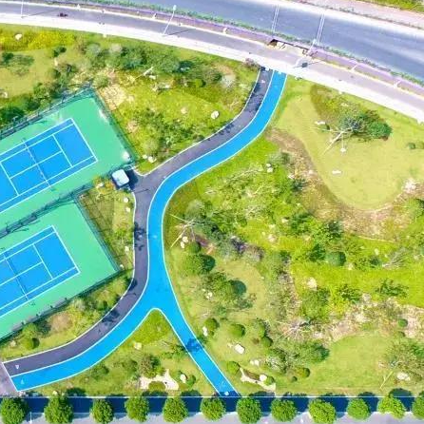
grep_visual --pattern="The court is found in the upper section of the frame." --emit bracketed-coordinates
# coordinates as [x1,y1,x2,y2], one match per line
[0,85,135,231]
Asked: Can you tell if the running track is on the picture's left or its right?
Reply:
left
